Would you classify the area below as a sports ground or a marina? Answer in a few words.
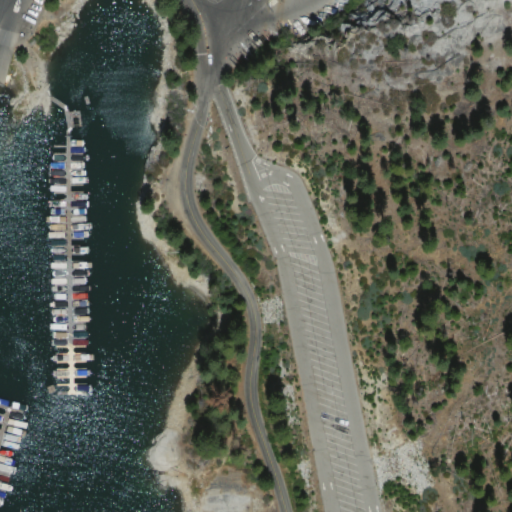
marina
